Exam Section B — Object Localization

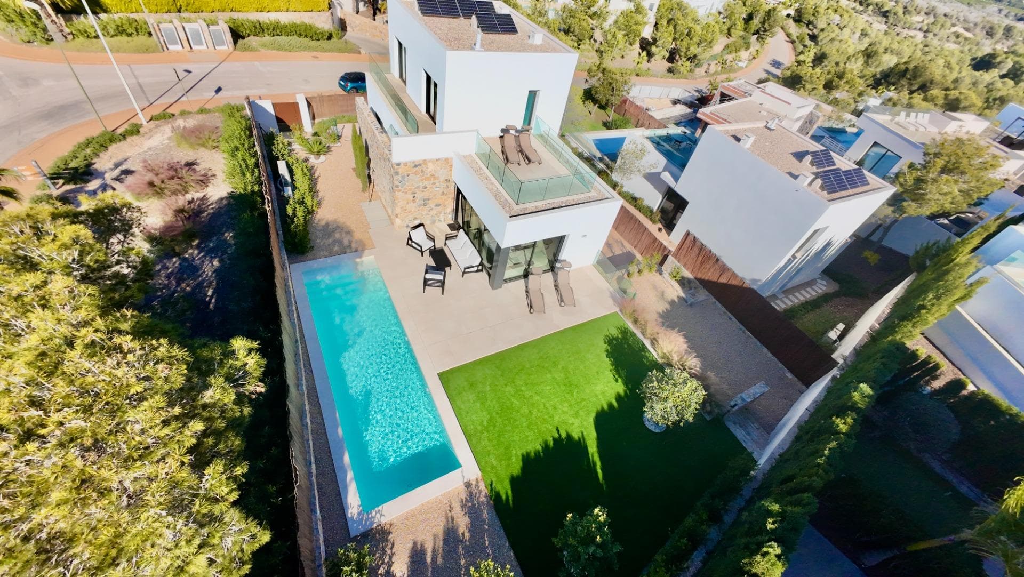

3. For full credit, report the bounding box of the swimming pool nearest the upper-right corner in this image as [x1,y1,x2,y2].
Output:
[816,119,856,154]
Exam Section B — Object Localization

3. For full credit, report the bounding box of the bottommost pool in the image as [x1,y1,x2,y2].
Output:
[289,247,481,536]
